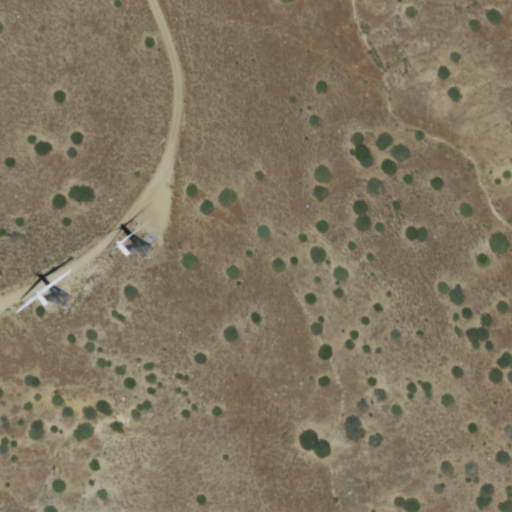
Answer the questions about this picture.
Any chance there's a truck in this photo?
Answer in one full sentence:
No, I can't see a single truck in this photo.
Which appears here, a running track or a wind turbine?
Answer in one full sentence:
The one in the frame is a wind turbine.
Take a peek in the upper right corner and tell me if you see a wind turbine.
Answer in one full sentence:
No, I can find no wind turbine in the upper right corner.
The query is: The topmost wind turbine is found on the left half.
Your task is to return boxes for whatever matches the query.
[100,218,153,258]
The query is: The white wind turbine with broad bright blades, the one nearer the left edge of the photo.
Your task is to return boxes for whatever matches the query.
[17,268,73,313]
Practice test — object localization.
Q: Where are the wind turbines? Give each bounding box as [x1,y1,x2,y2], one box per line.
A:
[100,218,153,258]
[17,268,73,313]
